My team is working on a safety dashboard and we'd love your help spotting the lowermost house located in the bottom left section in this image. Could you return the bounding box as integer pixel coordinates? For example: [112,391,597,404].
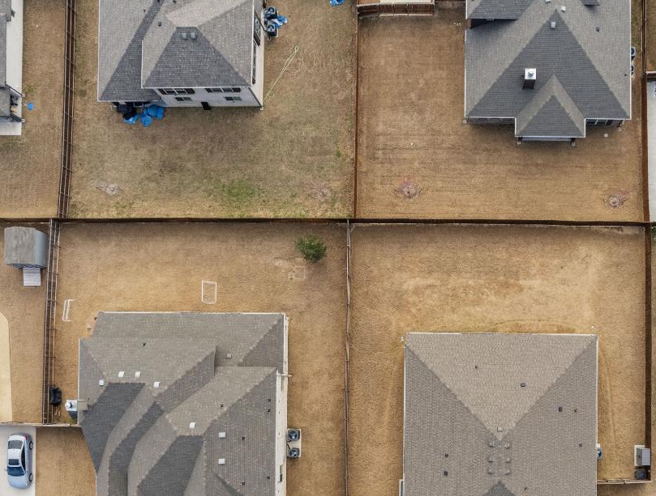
[64,311,291,496]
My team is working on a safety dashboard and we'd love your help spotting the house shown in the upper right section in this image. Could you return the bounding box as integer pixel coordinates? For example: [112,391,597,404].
[463,0,632,145]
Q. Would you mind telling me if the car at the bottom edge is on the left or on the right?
left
